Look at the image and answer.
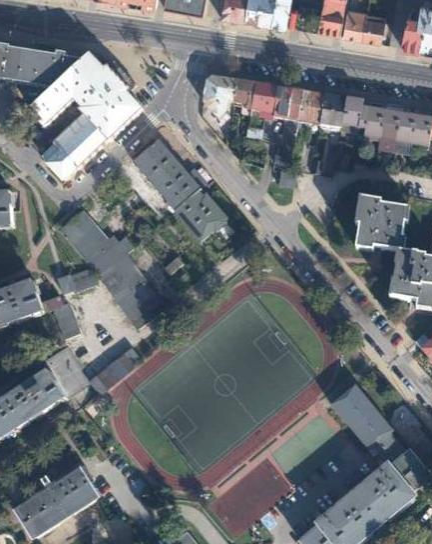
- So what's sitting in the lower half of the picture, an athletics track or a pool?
athletics track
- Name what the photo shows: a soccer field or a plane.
soccer field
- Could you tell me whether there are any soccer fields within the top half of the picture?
No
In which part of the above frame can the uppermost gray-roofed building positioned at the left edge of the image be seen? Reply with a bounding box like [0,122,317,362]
[0,43,69,89]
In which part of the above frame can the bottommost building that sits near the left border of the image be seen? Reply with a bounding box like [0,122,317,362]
[12,465,99,540]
